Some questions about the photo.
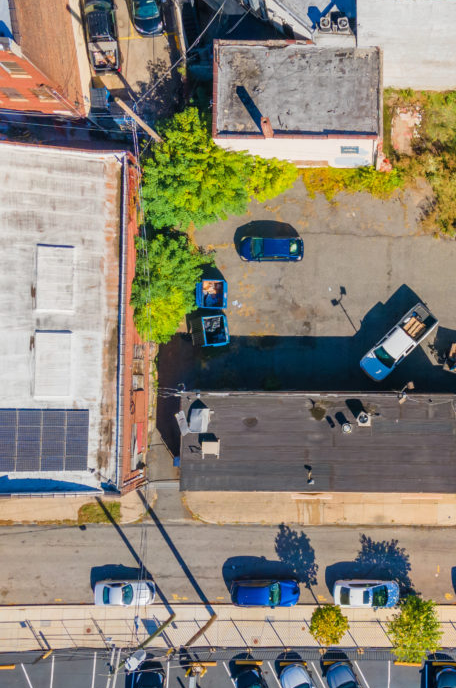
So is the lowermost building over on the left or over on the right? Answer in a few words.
right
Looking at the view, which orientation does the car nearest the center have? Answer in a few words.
horizontally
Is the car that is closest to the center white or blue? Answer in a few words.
blue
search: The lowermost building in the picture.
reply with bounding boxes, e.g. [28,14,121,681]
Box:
[178,391,456,503]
